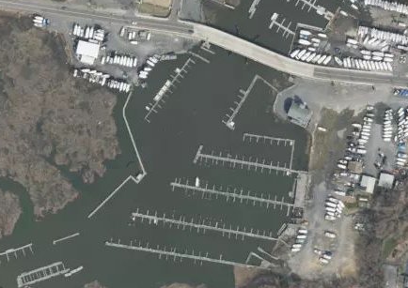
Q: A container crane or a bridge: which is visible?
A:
bridge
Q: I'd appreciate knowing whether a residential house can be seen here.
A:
Yes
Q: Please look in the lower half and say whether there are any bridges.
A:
No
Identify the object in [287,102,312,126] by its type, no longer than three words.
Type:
house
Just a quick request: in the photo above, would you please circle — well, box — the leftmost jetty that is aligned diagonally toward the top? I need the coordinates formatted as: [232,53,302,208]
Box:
[145,43,214,123]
